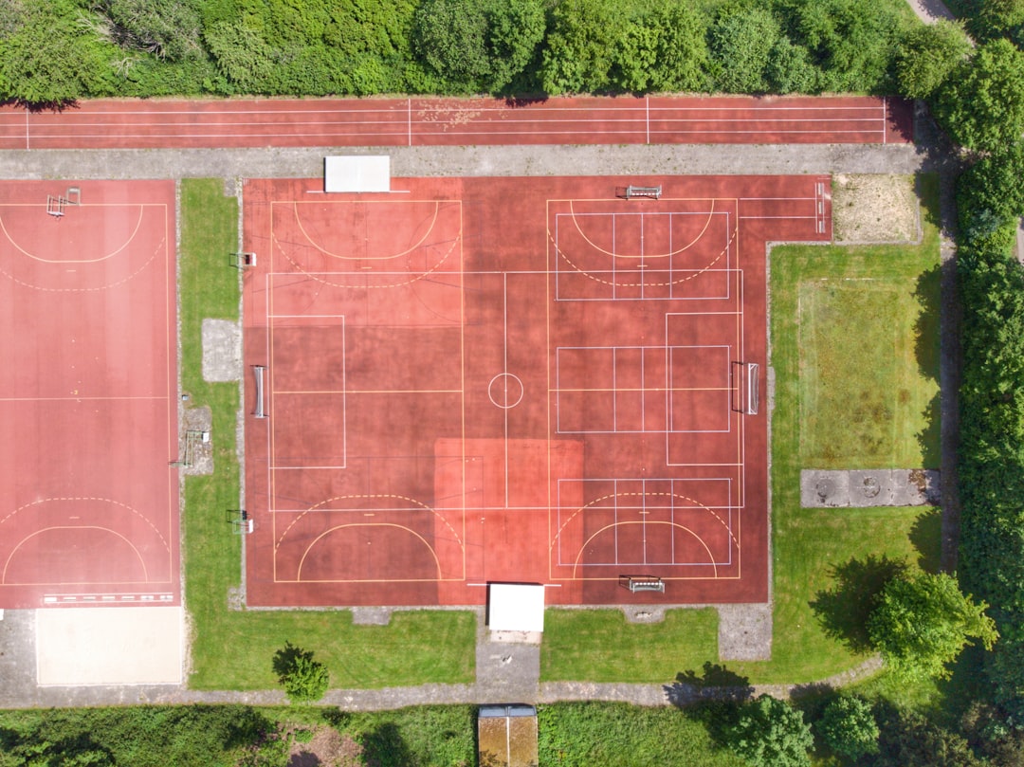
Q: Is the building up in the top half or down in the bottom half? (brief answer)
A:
bottom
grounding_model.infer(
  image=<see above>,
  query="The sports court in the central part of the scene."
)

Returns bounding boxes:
[244,174,833,607]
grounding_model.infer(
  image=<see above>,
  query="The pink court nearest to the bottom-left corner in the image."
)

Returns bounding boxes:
[0,179,180,609]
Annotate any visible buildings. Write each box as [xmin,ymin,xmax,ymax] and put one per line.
[478,705,538,767]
